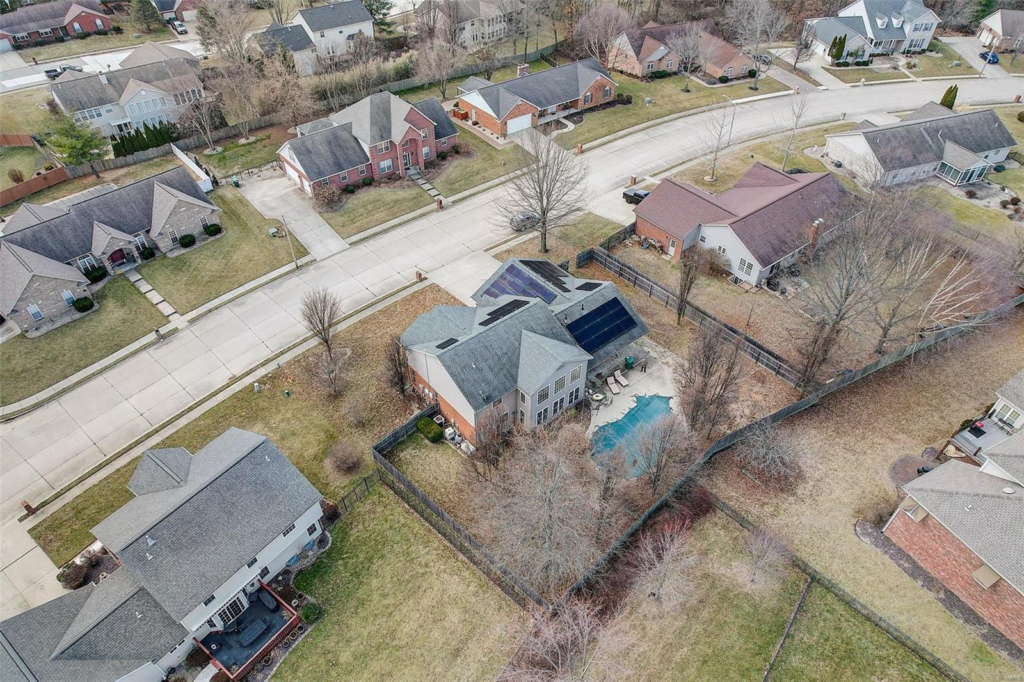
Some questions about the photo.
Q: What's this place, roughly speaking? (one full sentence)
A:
The picture captures a residential area.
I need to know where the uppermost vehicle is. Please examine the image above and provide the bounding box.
[171,20,186,33]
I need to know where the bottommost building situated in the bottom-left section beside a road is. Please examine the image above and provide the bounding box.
[0,428,324,682]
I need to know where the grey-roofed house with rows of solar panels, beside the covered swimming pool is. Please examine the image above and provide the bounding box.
[398,257,651,450]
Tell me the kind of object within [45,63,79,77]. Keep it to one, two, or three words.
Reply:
vehicle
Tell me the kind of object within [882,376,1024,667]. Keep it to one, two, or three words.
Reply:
house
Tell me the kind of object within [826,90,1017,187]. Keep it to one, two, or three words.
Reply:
house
